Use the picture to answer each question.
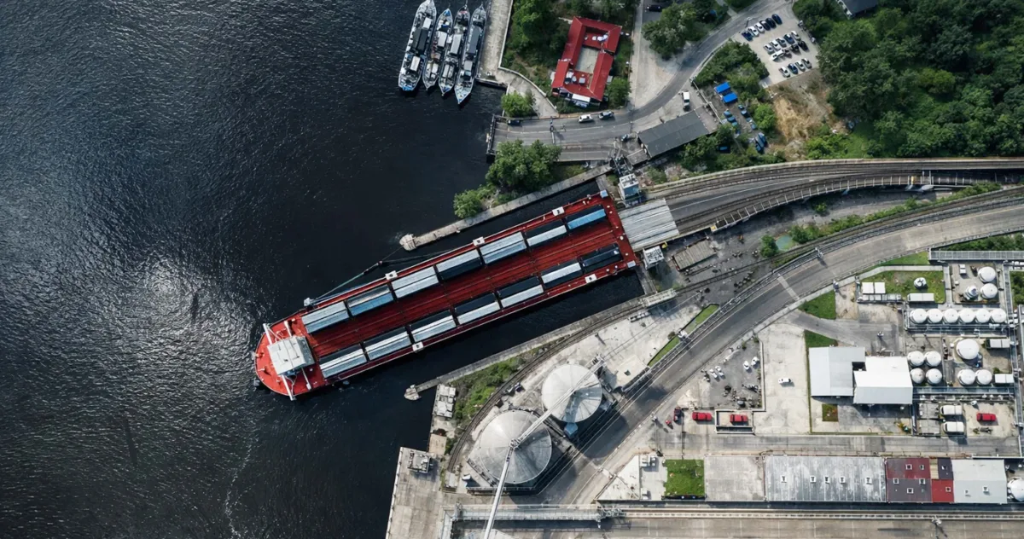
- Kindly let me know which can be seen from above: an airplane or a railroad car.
railroad car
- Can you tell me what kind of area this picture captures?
port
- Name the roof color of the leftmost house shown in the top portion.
red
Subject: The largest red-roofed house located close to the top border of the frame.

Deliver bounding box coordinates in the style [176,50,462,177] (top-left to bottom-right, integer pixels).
[550,16,622,107]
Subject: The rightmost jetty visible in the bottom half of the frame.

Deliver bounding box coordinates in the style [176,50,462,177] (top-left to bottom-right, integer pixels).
[406,294,647,400]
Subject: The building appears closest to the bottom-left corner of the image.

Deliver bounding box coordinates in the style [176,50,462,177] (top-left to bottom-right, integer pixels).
[408,452,433,471]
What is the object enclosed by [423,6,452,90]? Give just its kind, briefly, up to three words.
boat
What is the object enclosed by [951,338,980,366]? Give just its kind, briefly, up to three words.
storage tank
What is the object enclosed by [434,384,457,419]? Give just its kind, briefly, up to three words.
building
